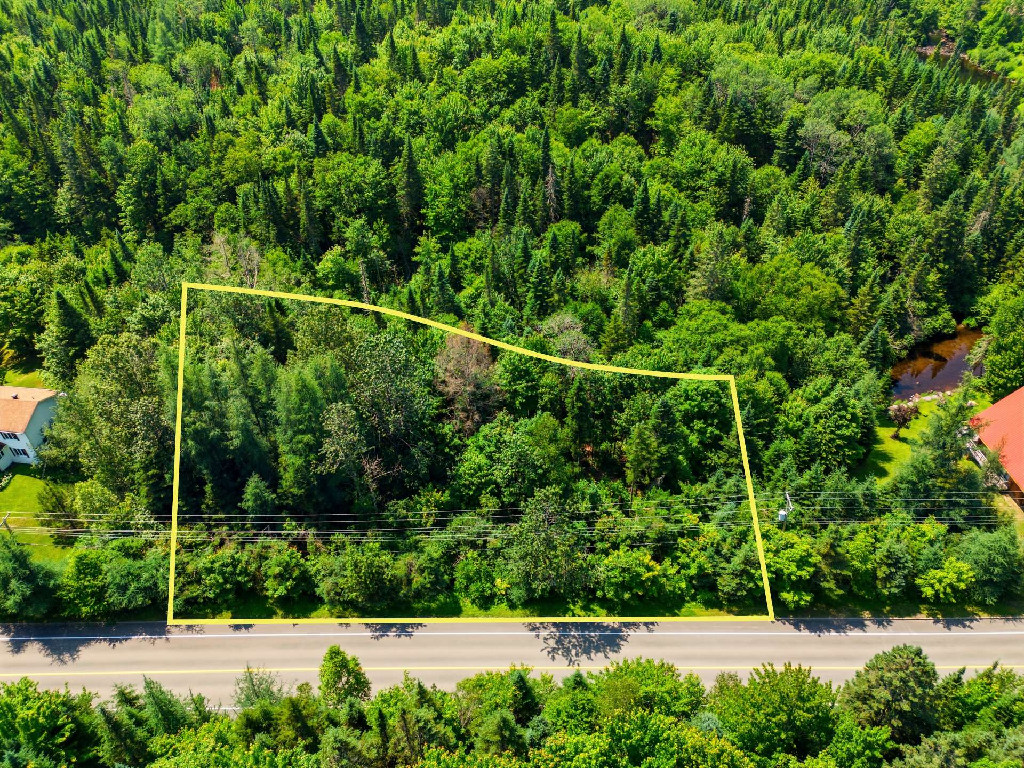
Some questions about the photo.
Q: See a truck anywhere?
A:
No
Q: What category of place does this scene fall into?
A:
forest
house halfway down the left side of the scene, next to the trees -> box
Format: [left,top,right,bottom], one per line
[0,387,68,472]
